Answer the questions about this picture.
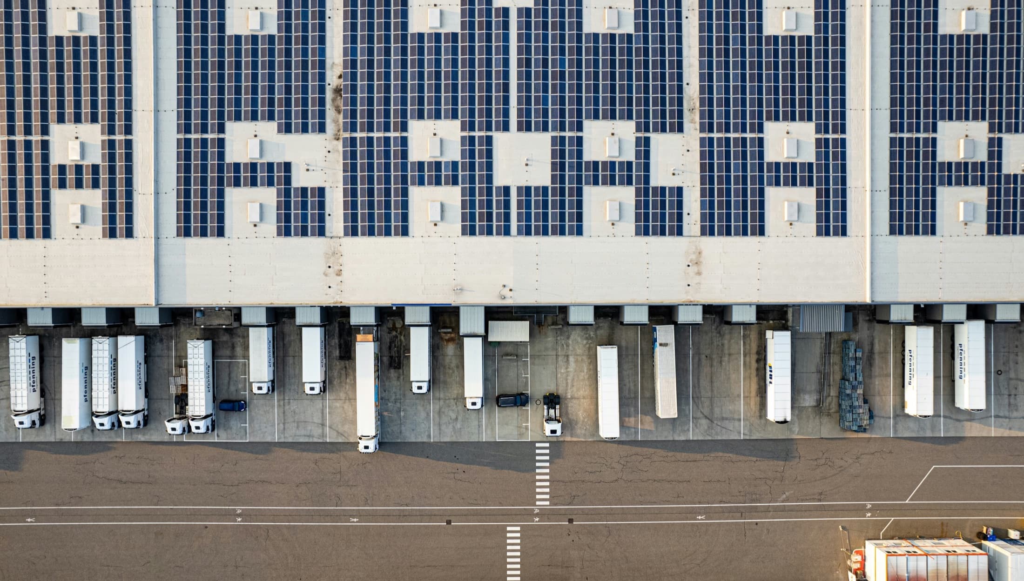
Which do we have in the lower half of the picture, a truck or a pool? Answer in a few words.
truck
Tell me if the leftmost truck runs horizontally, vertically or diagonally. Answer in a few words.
vertically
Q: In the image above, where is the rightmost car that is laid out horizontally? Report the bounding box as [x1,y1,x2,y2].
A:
[496,393,529,408]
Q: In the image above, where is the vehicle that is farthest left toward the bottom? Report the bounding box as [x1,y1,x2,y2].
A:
[8,335,47,428]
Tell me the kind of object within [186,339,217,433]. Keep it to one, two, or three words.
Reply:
truck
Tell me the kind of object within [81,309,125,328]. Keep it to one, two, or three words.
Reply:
house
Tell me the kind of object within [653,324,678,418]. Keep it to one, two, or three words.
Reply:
trailer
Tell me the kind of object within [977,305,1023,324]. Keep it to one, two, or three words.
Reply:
house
